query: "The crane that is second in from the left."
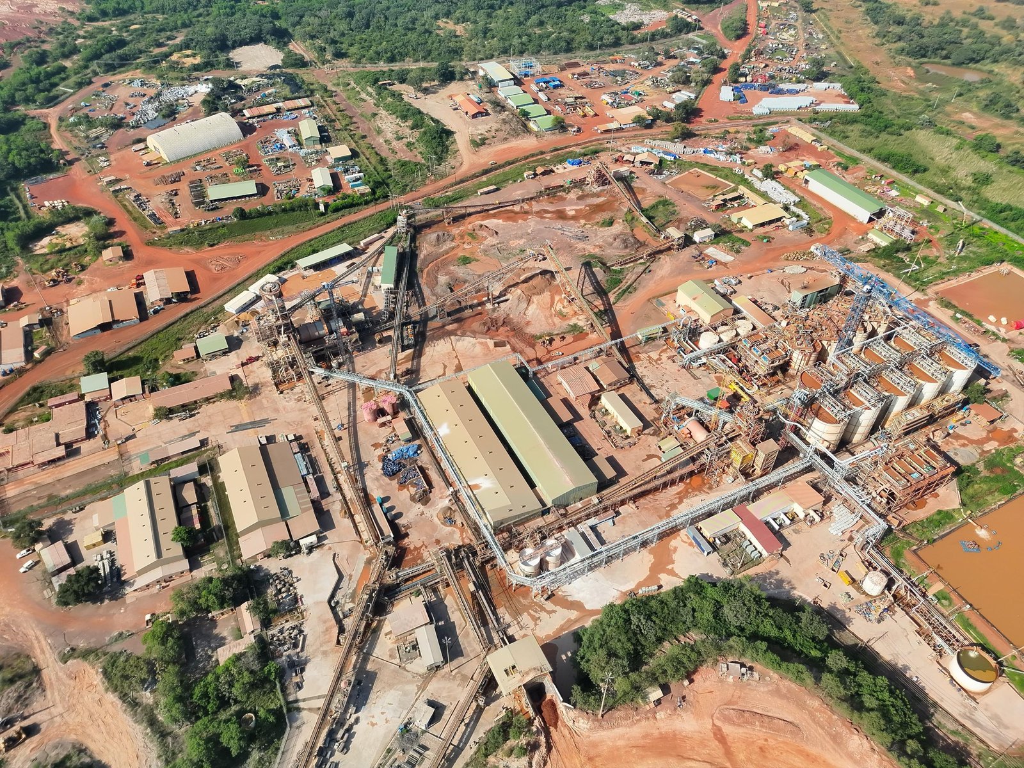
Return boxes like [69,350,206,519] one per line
[707,357,809,426]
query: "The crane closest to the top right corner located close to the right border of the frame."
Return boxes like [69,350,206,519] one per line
[811,245,1006,372]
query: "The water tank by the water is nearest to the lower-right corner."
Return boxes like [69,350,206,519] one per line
[944,641,1006,697]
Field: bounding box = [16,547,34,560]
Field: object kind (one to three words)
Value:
vehicle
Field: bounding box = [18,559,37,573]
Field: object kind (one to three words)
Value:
vehicle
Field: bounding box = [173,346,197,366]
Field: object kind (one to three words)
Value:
shed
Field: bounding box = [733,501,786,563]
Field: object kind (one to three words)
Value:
building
